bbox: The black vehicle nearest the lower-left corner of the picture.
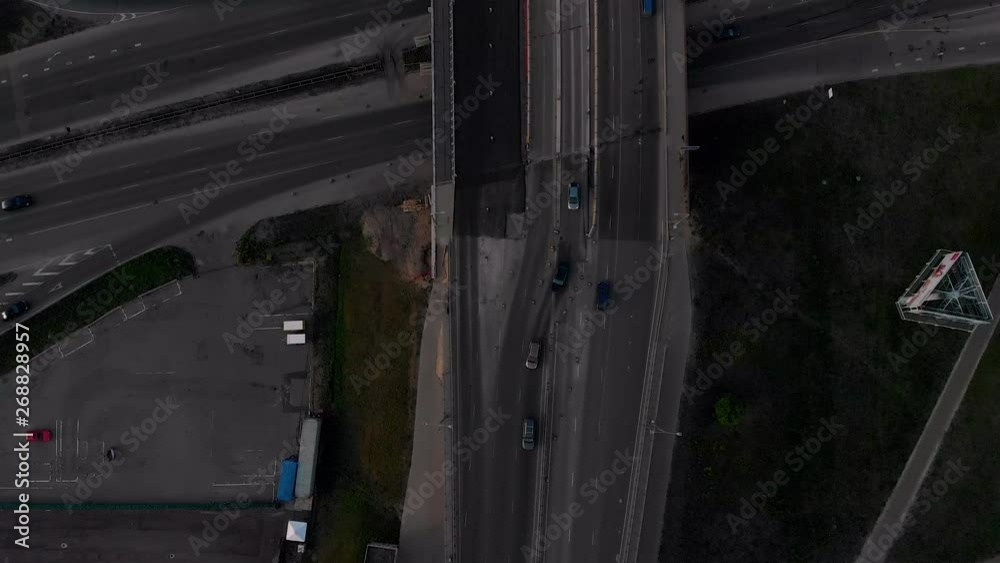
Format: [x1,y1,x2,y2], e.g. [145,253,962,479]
[1,300,30,319]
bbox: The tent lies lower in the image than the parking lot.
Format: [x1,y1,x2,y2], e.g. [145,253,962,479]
[287,518,311,541]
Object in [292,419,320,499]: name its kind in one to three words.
trailer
